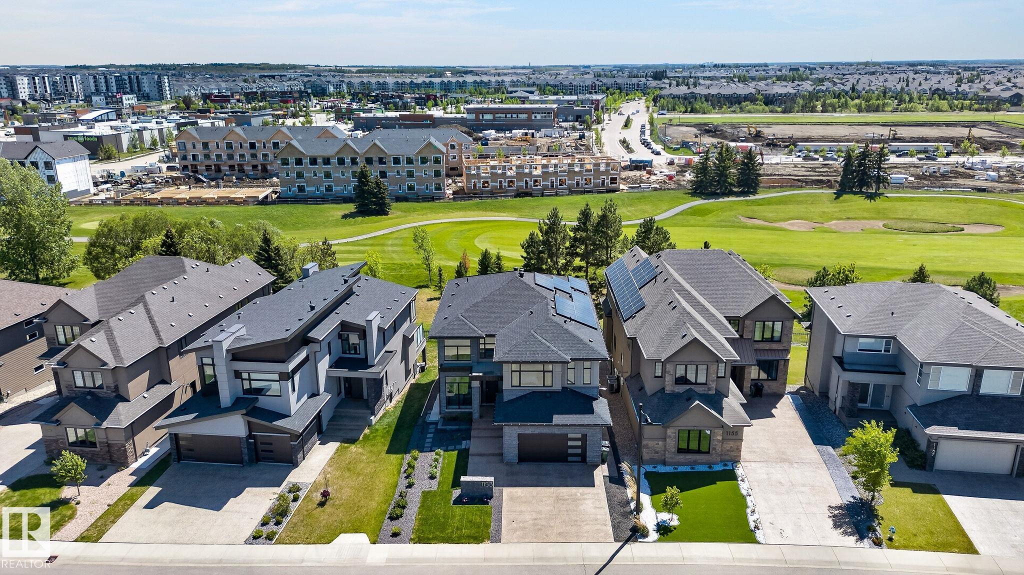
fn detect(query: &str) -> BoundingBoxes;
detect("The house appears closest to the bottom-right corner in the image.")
[804,279,1024,471]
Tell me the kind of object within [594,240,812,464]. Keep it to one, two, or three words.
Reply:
house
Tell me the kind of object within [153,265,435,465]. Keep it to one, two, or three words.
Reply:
house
